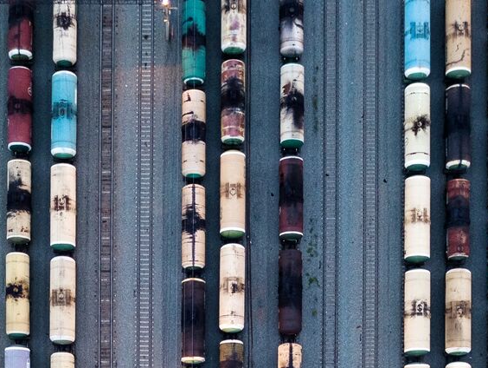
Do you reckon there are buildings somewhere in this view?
No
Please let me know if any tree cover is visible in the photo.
No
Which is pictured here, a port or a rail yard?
rail yard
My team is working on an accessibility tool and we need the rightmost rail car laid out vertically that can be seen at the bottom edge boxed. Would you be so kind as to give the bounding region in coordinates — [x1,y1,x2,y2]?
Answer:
[443,267,471,360]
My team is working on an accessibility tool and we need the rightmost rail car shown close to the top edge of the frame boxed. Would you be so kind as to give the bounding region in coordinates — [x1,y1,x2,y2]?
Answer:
[443,0,471,84]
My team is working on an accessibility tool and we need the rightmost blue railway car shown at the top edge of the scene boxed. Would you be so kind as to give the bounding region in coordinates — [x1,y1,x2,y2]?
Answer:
[404,0,431,84]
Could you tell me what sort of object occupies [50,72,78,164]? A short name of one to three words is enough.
rail car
